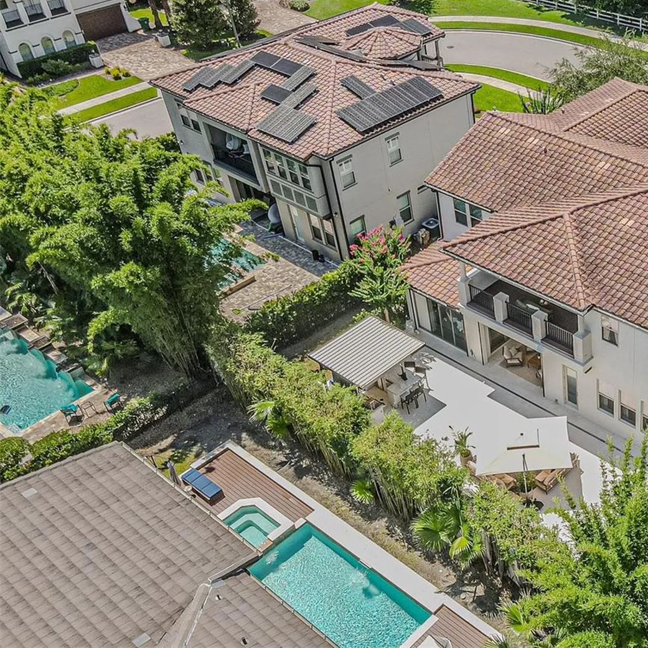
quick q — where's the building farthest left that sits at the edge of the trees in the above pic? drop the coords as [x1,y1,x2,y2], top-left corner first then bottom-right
[0,0,141,78]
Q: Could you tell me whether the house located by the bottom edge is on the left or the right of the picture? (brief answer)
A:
left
